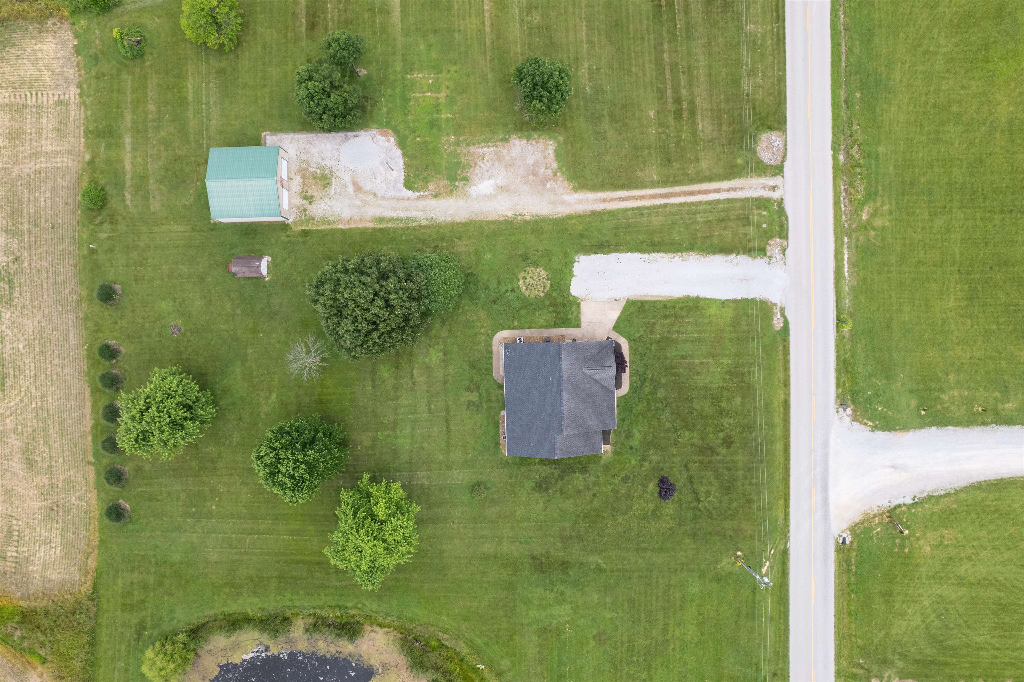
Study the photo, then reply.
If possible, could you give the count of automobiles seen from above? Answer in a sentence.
The count of automobiles is 0.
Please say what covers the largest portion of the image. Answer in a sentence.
The largest share of the image is taken up by grass.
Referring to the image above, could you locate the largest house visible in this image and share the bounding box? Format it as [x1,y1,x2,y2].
[497,338,619,459]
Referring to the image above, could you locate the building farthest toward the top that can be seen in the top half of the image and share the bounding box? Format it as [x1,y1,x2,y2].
[205,145,288,222]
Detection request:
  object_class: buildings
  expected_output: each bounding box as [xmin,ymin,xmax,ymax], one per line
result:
[497,338,619,459]
[205,145,288,222]
[231,255,267,276]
